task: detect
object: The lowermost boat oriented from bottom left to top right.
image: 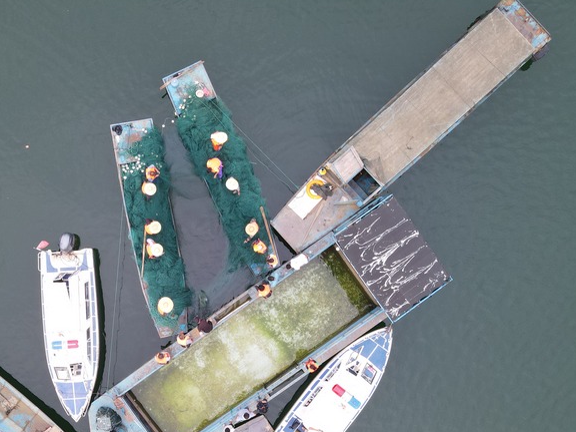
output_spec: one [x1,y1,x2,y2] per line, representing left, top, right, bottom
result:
[273,326,395,432]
